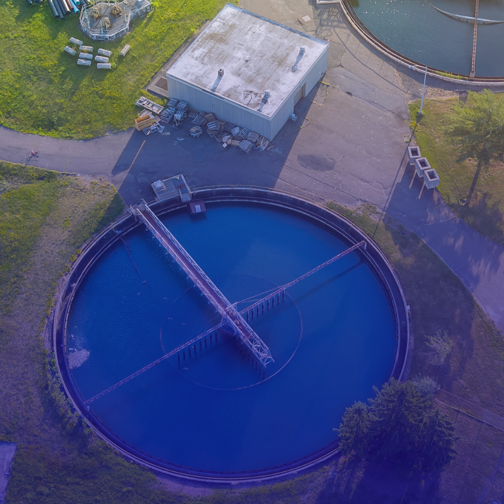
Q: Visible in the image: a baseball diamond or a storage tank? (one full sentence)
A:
Visible in the photo is a storage tank.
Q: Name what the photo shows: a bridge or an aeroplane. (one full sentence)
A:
The image shows a bridge.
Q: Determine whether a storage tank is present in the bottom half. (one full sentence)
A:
Yes, looking in the bottom half, one can make out a storage tank.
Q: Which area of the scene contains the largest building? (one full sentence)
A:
Look in the top portion of the view to spot the largest building.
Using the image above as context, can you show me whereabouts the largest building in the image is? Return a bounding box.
[164,8,330,140]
